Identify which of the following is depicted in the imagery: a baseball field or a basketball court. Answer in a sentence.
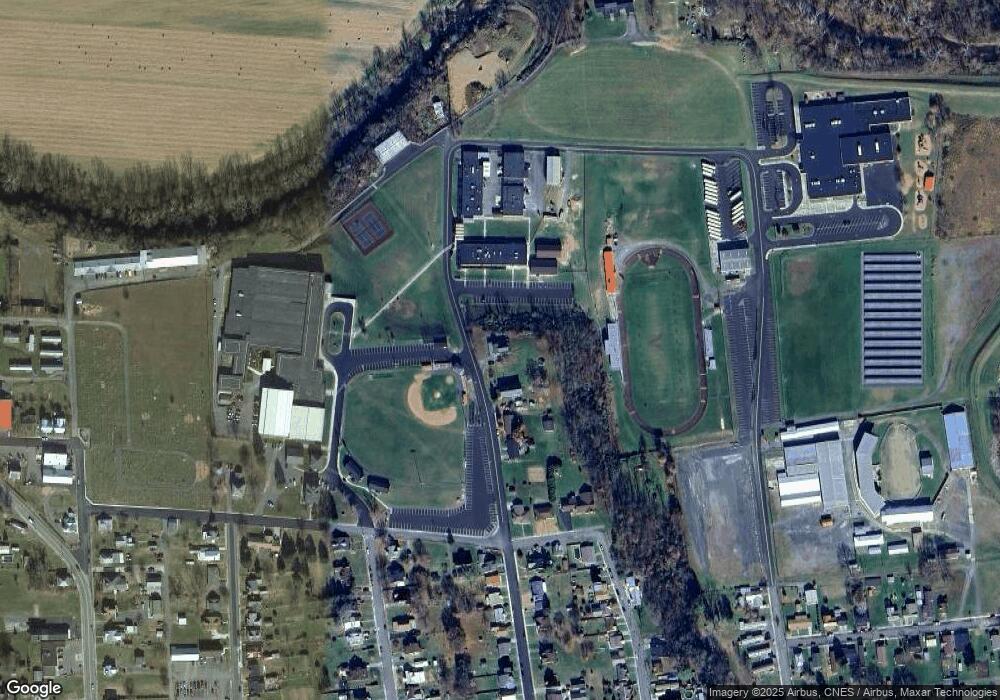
The one in the frame is a baseball field.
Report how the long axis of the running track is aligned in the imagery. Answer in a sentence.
In this picture, the running track lies vertically.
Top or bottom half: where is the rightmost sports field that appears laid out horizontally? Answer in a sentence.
The top half of the photo is where the rightmost sports field that appears laid out horizontally is.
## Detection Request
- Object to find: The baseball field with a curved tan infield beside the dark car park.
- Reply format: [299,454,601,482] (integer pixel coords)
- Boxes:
[343,365,466,509]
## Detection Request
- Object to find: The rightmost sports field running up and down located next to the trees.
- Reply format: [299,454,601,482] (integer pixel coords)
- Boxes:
[624,252,702,430]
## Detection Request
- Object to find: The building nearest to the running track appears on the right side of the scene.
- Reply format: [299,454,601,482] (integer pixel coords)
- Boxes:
[604,251,616,293]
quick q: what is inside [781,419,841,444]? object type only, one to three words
barn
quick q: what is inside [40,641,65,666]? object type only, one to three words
building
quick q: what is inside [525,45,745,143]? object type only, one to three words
sports field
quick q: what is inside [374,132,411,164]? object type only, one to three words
shed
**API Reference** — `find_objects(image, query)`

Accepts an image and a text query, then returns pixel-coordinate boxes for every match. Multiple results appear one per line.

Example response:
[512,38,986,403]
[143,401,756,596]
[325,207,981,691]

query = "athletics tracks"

[617,245,710,435]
